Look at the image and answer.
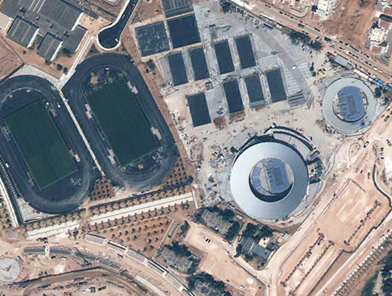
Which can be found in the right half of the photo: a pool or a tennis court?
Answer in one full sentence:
Visible in the right half of the photo is a tennis court.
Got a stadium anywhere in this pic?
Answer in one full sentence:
Yes, looking at the shot, I can spot a stadium.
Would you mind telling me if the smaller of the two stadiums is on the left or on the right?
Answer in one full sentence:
The smaller of the two stadiums is on the right side of the image.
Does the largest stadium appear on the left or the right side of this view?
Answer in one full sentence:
You can find the largest stadium on the right side of the picture.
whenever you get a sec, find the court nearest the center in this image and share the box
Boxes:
[187,91,210,127]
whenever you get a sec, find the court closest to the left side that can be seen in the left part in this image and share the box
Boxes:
[135,21,169,57]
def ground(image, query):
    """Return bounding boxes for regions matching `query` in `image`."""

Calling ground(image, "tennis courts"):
[190,46,209,80]
[135,21,169,57]
[214,39,234,74]
[168,52,188,85]
[187,91,210,127]
[166,13,200,48]
[161,0,193,18]
[244,73,264,108]
[264,67,287,103]
[235,34,256,68]
[223,79,244,113]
